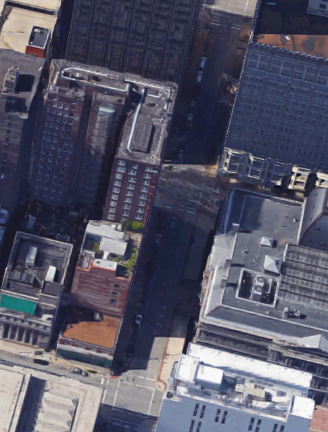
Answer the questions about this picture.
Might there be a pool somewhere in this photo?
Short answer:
No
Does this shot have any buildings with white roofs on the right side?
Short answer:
Yes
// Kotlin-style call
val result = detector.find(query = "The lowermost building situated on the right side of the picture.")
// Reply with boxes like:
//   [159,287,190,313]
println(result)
[157,342,320,432]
